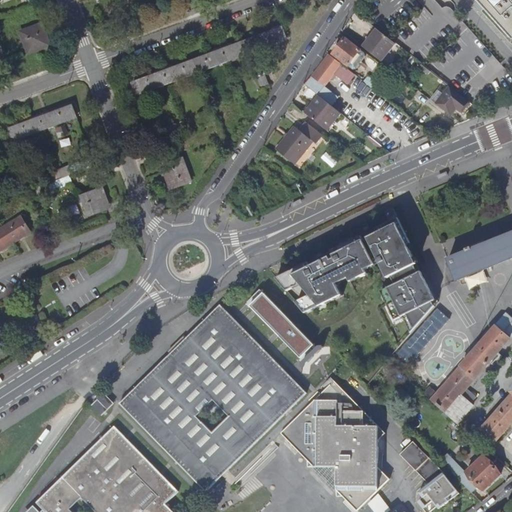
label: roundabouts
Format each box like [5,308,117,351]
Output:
[150,222,228,300]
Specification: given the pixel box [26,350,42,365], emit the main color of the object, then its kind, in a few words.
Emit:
white vehicle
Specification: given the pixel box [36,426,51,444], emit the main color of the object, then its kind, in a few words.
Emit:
white vehicle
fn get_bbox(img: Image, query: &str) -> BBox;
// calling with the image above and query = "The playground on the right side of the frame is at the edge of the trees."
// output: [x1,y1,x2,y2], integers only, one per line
[414,330,470,388]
